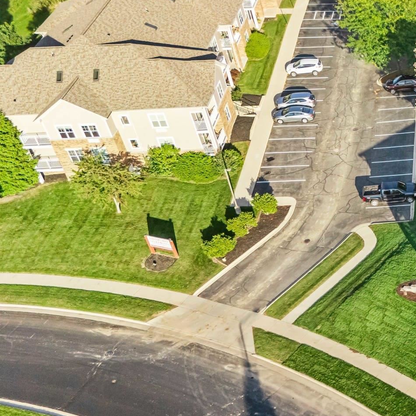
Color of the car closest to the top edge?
white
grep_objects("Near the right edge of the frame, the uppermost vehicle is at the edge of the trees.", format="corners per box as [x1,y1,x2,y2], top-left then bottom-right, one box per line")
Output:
[384,73,416,93]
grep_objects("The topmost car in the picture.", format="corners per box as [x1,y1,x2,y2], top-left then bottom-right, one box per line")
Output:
[283,55,325,75]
